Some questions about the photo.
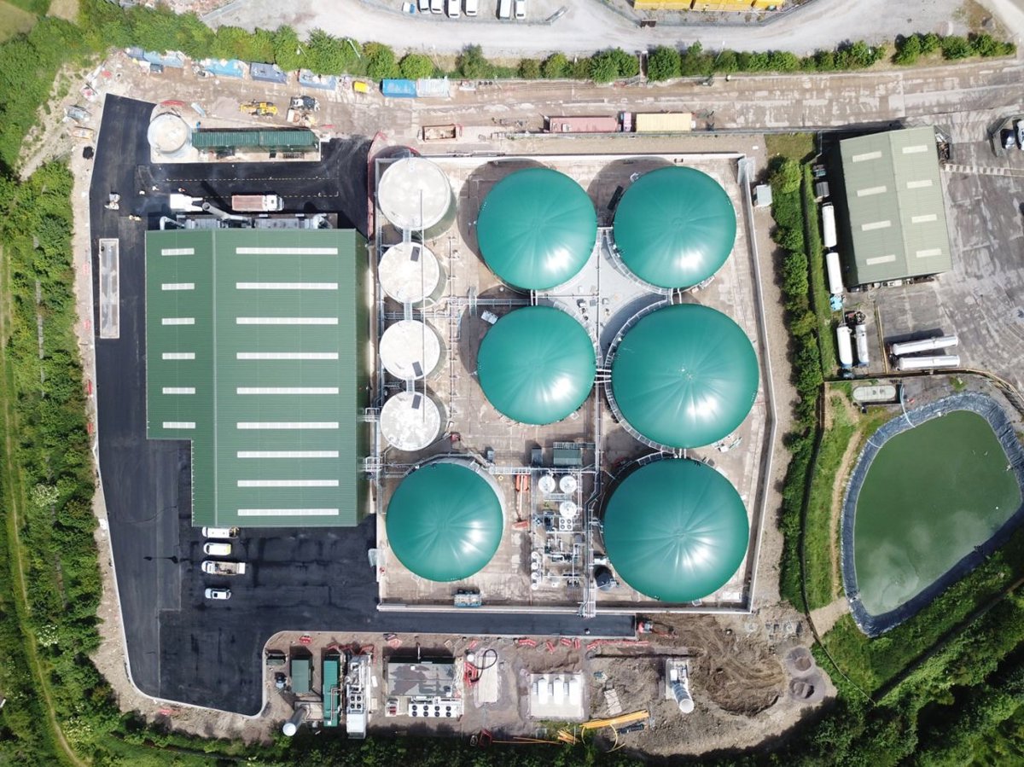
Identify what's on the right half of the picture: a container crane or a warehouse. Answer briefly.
warehouse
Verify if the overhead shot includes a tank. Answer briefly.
Yes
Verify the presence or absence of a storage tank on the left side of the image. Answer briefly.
Yes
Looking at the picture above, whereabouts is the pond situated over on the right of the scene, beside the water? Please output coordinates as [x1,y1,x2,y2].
[838,389,1024,638]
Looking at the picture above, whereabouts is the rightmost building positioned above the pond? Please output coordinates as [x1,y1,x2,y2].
[826,126,952,289]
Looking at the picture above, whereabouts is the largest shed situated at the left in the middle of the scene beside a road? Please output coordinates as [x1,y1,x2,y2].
[145,228,367,528]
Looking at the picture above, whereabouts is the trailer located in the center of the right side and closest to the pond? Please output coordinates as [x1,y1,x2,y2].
[894,356,960,371]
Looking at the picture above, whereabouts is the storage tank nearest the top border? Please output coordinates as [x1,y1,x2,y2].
[147,111,201,164]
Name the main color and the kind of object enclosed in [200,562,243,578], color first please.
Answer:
white vehicle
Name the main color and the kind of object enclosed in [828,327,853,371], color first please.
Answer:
white trailer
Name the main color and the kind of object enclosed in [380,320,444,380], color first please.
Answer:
white storage tank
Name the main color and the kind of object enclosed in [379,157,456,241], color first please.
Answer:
white storage tank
